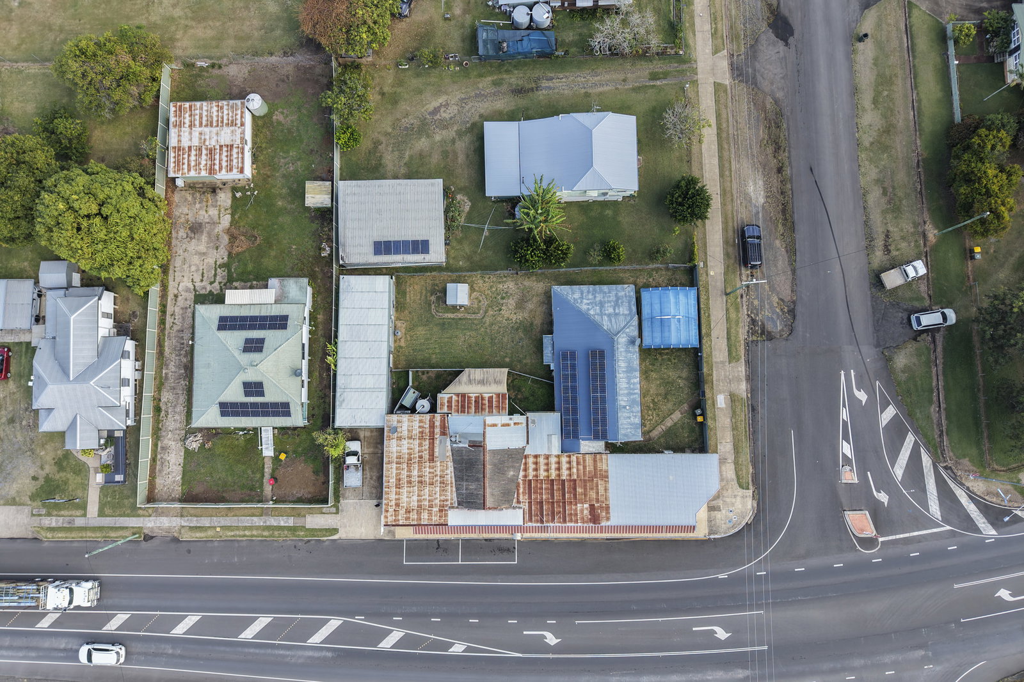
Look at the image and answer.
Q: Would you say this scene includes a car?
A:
Yes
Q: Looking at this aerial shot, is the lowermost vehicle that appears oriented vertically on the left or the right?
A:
left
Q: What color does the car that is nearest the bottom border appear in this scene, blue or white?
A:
white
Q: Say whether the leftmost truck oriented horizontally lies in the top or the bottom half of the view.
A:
bottom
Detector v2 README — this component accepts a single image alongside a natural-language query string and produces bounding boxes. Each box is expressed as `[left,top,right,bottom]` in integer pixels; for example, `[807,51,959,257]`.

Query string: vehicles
[877,259,929,291]
[0,344,10,382]
[397,0,416,17]
[340,441,362,491]
[0,582,101,616]
[911,306,957,331]
[745,220,769,270]
[78,644,125,667]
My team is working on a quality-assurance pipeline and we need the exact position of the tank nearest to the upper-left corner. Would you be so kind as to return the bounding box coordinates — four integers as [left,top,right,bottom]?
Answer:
[242,88,269,115]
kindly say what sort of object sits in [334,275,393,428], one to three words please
shed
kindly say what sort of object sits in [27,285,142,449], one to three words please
house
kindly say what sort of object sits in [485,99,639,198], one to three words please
house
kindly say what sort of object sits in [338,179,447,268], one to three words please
shed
